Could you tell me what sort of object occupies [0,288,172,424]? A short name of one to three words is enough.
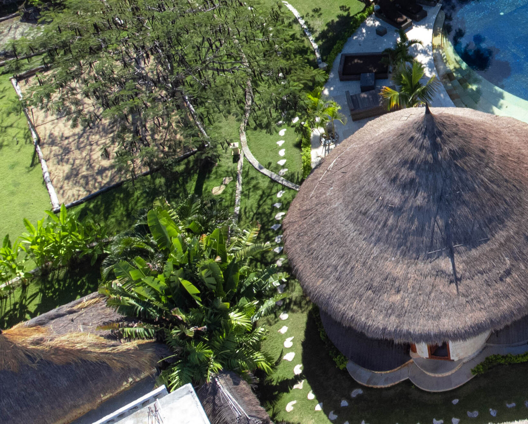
house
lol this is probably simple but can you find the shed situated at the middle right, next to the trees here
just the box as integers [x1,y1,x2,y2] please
[278,103,528,366]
